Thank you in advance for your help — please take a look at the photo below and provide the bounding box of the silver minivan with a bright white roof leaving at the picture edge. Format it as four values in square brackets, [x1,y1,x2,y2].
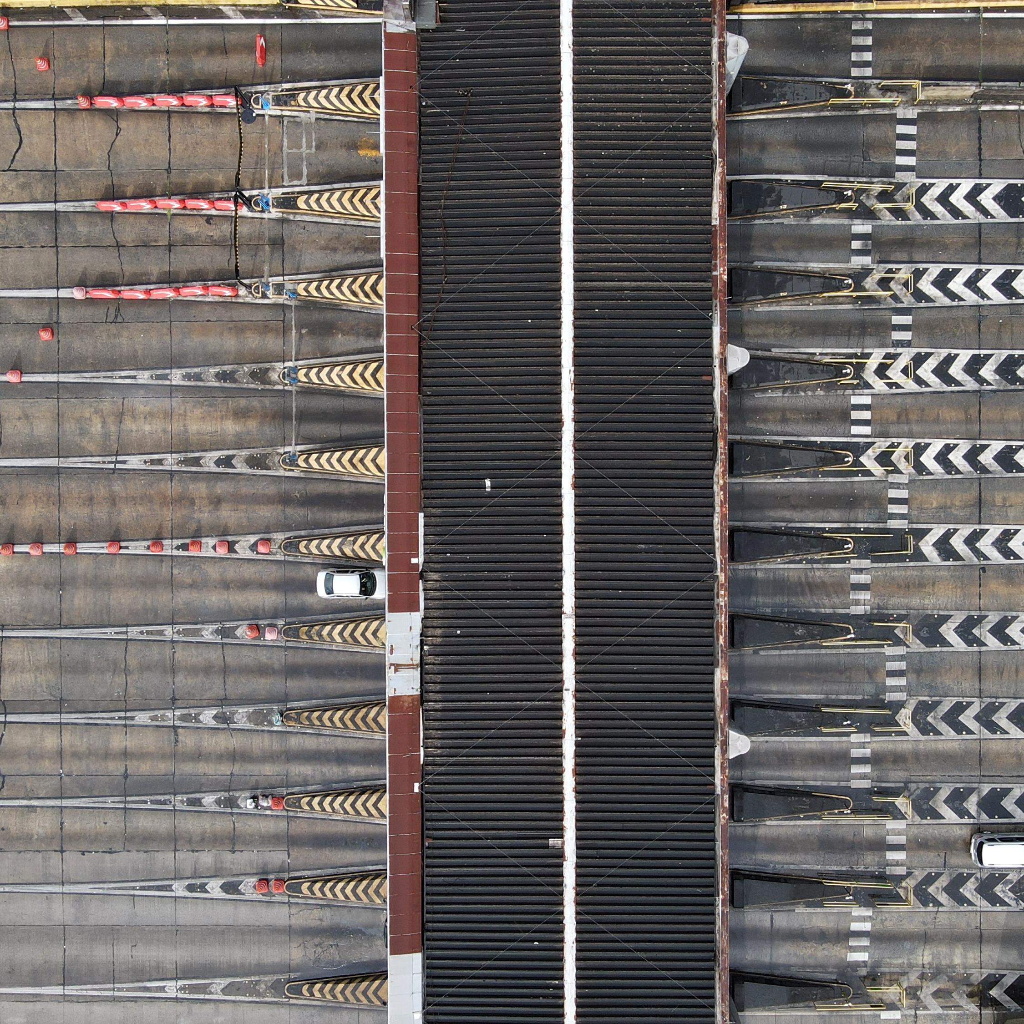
[967,830,1024,868]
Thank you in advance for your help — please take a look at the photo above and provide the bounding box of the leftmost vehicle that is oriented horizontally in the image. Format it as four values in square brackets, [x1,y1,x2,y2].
[317,566,385,600]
